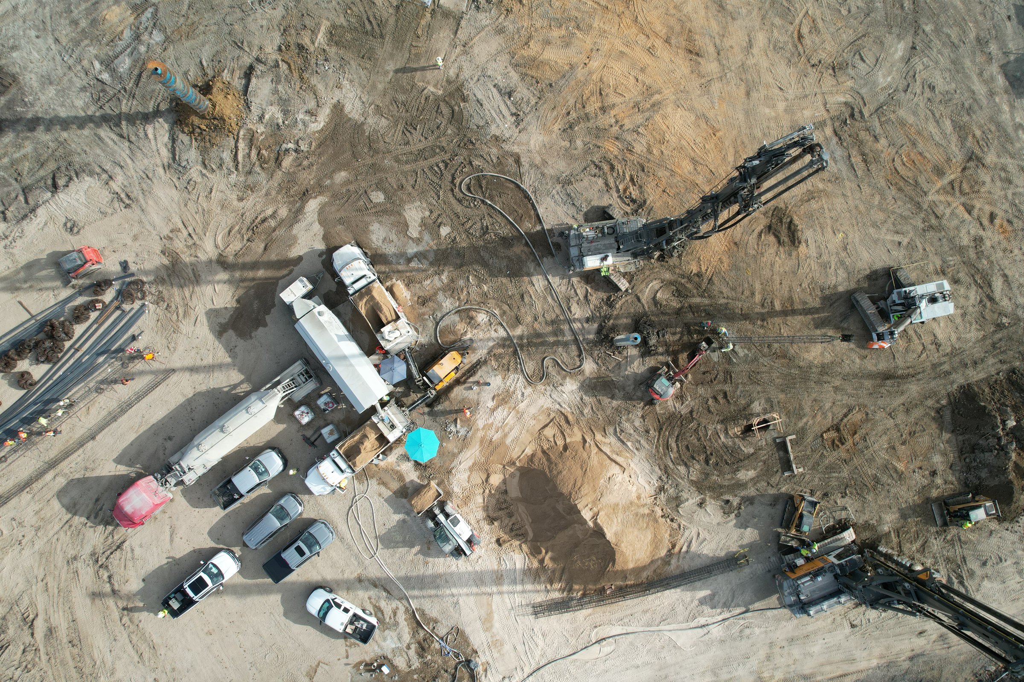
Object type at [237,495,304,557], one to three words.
car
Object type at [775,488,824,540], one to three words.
work vehicle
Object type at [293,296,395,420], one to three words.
trailer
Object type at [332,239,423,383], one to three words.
truck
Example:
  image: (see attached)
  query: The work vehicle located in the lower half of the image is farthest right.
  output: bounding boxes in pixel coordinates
[934,489,1003,526]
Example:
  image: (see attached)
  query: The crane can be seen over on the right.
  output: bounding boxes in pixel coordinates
[847,261,953,350]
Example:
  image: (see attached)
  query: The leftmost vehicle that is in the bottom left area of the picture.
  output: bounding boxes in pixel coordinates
[110,464,190,533]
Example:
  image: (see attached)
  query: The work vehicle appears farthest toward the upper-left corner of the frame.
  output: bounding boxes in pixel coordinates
[56,240,111,289]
